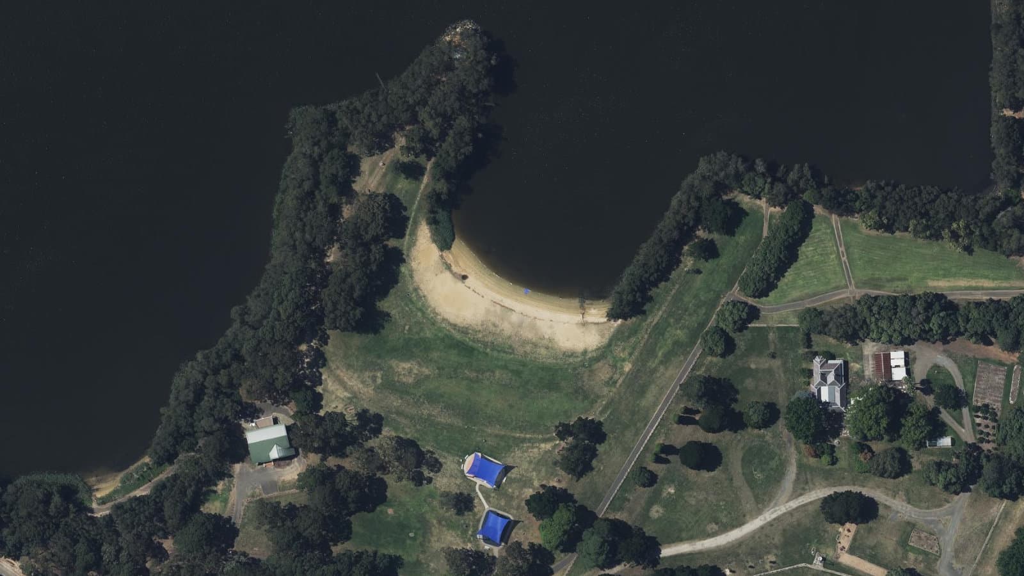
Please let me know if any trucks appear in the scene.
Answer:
No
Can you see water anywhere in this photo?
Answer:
Yes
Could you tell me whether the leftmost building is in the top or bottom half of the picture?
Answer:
bottom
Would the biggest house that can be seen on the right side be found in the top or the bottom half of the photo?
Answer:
bottom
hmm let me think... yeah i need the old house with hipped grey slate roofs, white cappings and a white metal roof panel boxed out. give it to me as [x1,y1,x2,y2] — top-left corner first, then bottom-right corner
[811,356,845,413]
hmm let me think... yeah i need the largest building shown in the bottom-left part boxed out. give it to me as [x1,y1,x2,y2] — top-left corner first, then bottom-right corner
[245,419,297,465]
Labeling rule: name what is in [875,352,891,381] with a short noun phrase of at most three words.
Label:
shed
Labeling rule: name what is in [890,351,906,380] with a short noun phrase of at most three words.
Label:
shed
